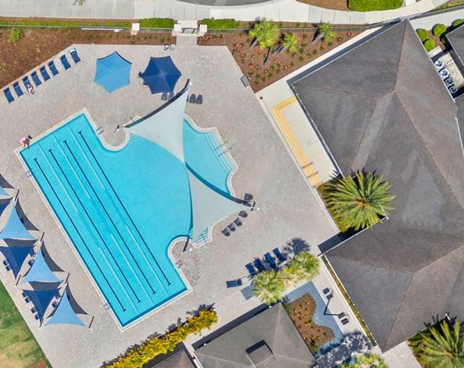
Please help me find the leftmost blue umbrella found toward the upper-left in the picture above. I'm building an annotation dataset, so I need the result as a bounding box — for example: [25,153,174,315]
[94,54,131,93]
